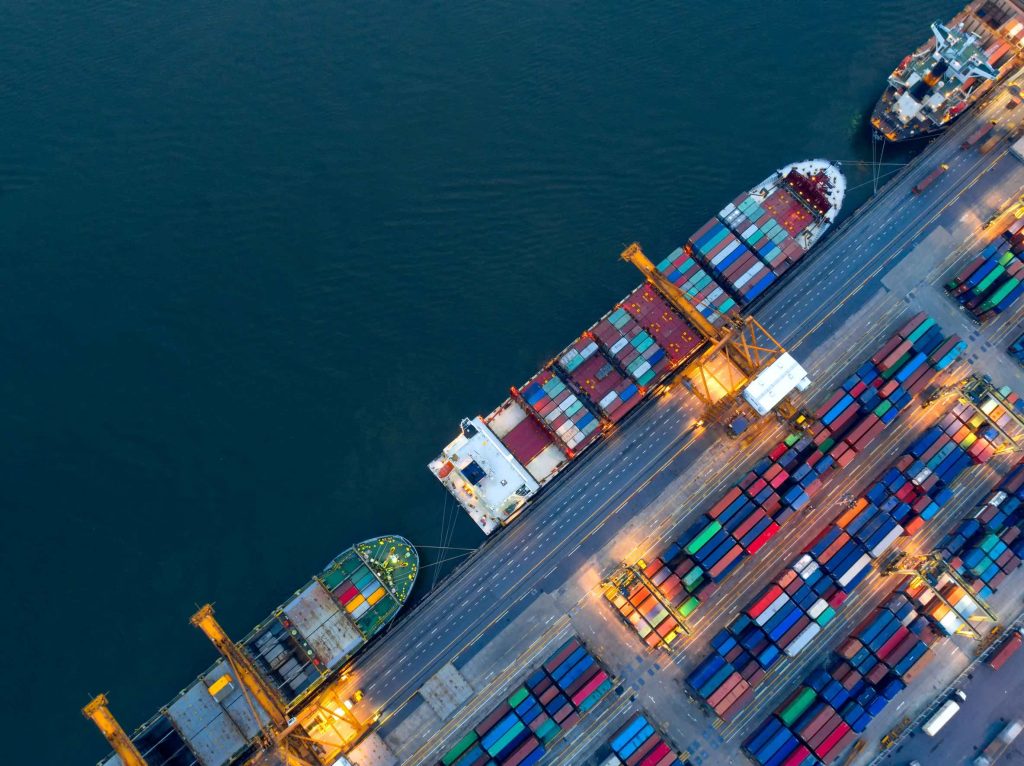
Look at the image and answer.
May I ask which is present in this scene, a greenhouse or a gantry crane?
gantry crane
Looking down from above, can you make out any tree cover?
No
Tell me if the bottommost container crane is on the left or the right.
left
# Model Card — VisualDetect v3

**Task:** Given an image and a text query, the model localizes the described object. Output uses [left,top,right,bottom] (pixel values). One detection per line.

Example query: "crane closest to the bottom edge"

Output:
[74,688,150,766]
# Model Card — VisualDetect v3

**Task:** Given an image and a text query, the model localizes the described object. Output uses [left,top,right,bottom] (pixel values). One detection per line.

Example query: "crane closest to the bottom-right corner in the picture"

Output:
[883,551,1008,646]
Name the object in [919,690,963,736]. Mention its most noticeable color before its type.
white truck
